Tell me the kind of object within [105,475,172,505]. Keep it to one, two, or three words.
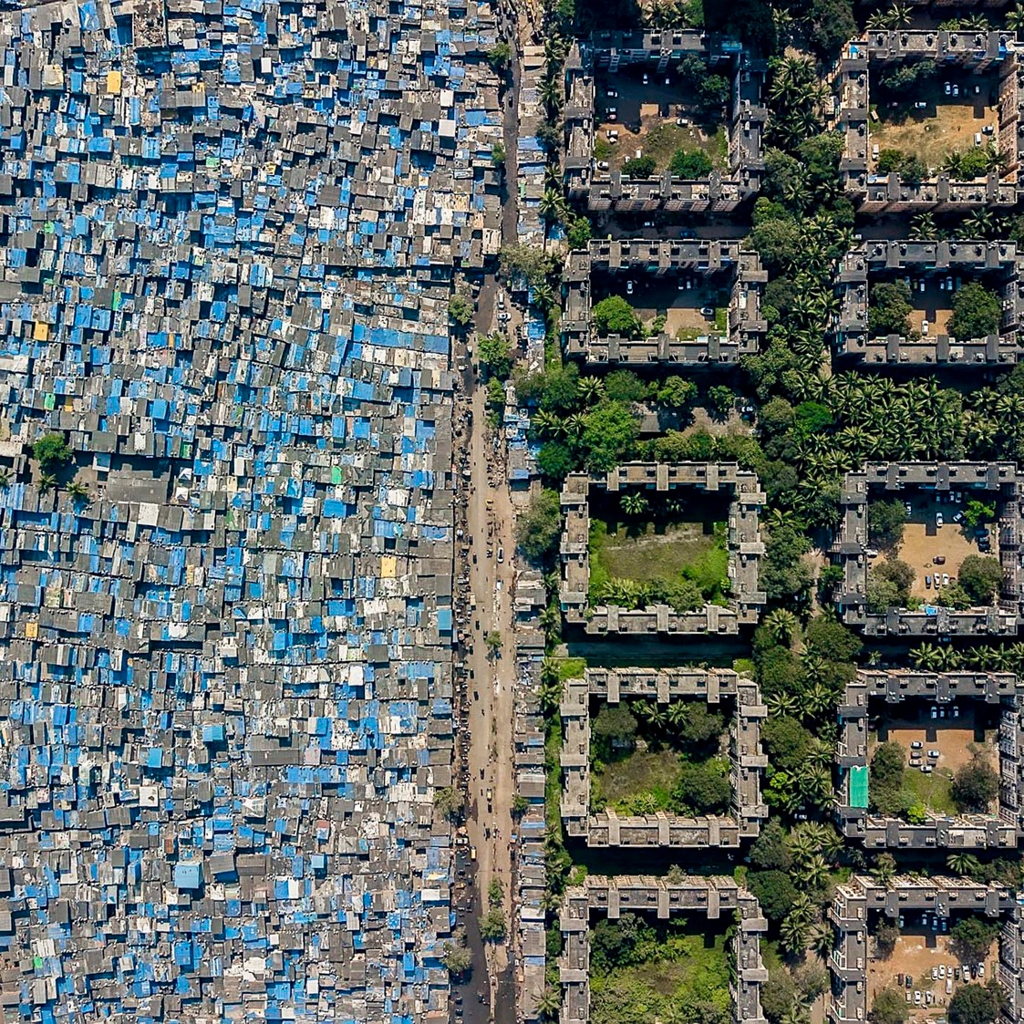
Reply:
shed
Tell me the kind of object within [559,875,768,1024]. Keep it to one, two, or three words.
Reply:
building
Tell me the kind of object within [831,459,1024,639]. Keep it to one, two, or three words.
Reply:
building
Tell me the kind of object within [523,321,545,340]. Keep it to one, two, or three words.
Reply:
shed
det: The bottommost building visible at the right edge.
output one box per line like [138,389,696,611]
[827,875,1024,1024]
